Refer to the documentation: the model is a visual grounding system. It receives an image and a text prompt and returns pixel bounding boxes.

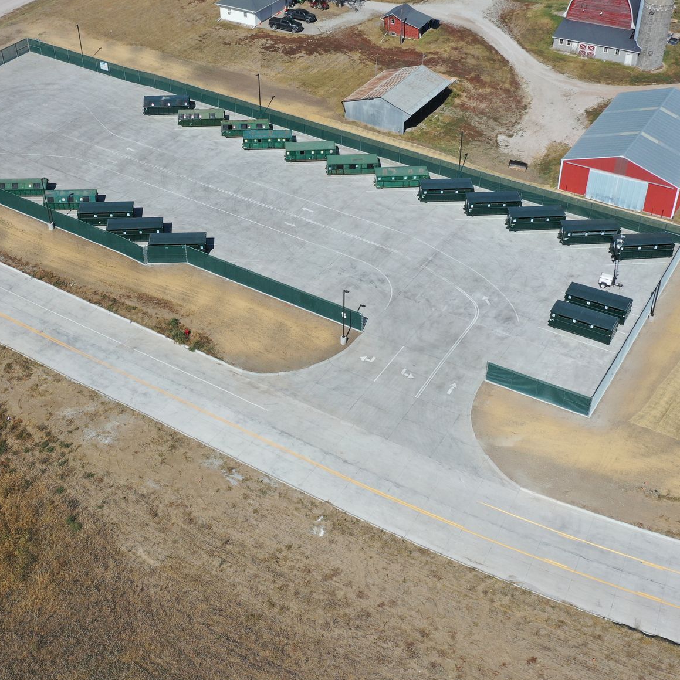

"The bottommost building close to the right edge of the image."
[558,86,680,220]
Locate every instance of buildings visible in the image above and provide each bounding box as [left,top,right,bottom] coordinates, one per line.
[341,64,453,134]
[379,2,436,37]
[558,86,680,220]
[551,0,647,64]
[213,0,294,29]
